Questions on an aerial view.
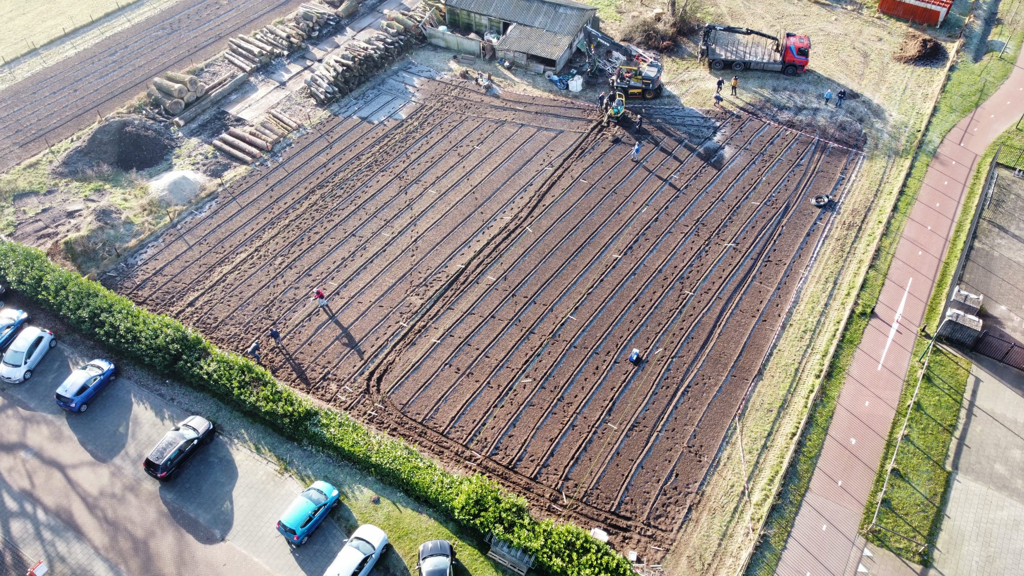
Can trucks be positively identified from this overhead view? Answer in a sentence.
Yes, there's a truck down there.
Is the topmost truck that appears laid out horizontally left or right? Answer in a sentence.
You can find the topmost truck that appears laid out horizontally on the right side of the picture.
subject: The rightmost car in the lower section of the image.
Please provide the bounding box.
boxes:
[416,536,459,576]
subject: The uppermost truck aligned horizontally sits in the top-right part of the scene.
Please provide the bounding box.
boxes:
[693,24,812,75]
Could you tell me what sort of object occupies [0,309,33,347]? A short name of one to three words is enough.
car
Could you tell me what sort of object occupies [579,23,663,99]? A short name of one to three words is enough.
work vehicle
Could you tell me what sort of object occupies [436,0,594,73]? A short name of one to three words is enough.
shed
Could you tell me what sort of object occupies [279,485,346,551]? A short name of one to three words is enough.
car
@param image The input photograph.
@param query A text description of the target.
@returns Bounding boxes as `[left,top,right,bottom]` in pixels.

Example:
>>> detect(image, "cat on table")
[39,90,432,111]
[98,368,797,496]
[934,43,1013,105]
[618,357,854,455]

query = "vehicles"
[139,416,224,485]
[595,98,632,131]
[324,531,393,576]
[416,536,459,576]
[0,309,33,347]
[693,24,812,75]
[579,23,663,99]
[279,485,346,551]
[51,359,120,413]
[0,328,62,383]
